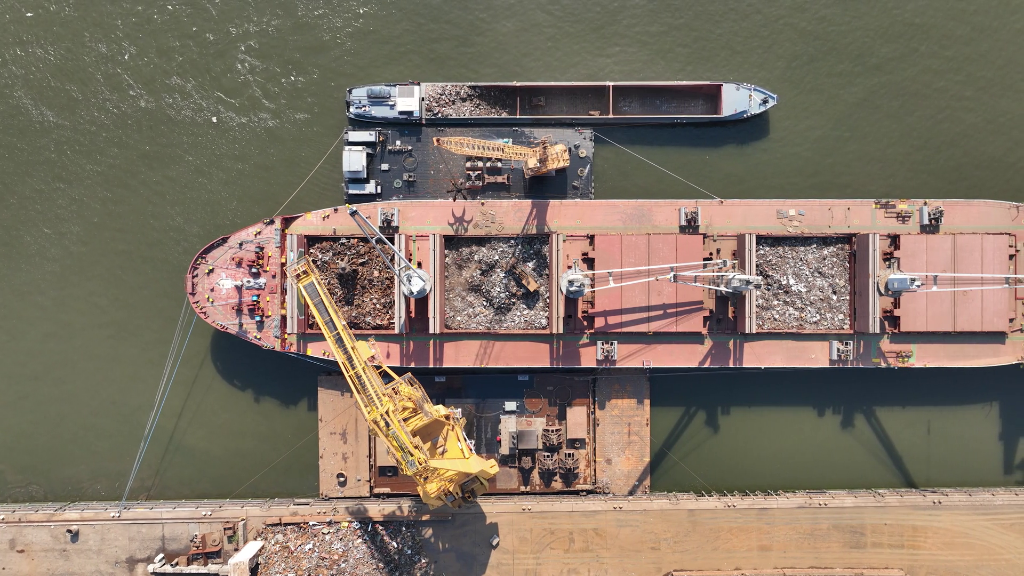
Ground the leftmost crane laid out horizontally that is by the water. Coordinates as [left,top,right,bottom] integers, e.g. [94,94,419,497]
[433,134,571,178]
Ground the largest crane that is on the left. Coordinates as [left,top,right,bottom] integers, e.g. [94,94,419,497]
[282,255,500,510]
